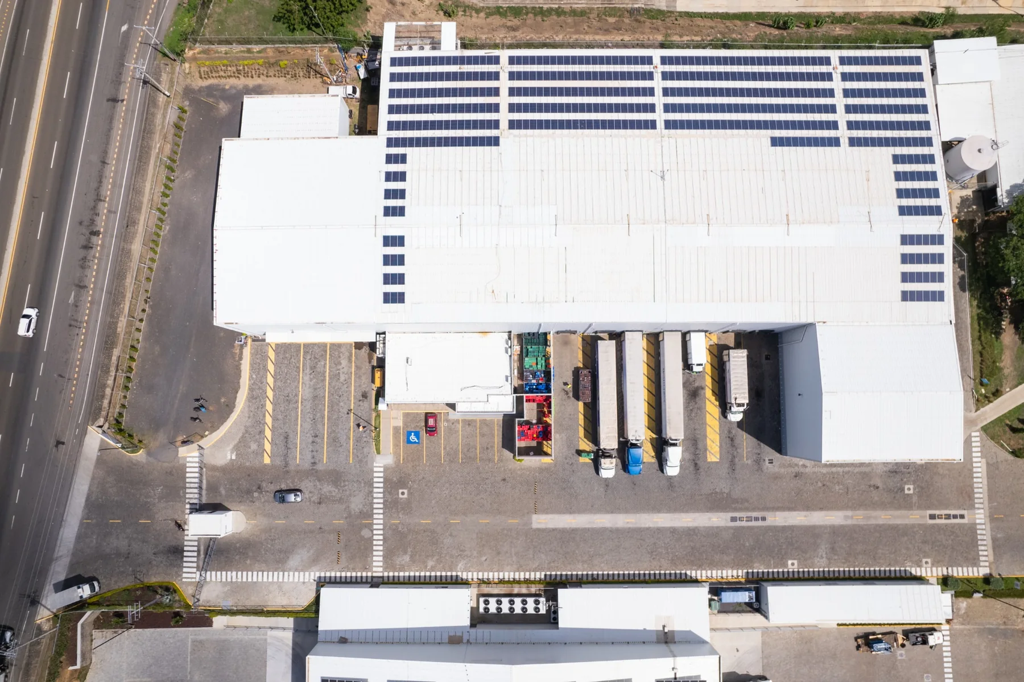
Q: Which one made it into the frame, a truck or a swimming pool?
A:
truck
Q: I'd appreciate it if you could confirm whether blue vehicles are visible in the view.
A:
Yes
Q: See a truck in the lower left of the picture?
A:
Yes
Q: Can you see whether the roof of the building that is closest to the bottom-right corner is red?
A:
No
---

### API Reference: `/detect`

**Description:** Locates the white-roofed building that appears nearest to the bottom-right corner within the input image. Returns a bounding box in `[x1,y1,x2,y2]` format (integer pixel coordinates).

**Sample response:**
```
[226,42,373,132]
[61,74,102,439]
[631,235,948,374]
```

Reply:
[753,577,952,623]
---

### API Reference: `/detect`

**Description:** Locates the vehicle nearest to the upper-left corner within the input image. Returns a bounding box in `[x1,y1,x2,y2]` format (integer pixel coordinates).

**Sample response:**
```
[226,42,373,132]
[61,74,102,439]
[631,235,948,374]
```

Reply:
[14,307,38,336]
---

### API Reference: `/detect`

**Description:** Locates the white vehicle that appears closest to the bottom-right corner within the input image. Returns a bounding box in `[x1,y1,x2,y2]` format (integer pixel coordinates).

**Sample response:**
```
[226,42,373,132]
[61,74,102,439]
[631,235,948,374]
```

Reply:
[910,632,946,653]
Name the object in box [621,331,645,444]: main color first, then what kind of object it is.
white trailer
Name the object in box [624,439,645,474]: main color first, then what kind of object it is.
blue truck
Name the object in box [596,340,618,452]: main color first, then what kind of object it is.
white trailer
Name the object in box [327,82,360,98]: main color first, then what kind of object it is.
white vehicle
